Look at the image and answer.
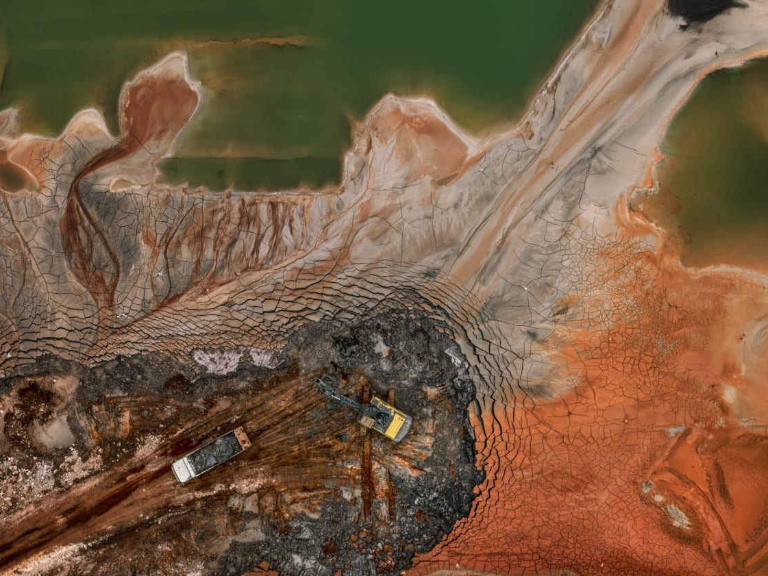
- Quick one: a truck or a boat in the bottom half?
truck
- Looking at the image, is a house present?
No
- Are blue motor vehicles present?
No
